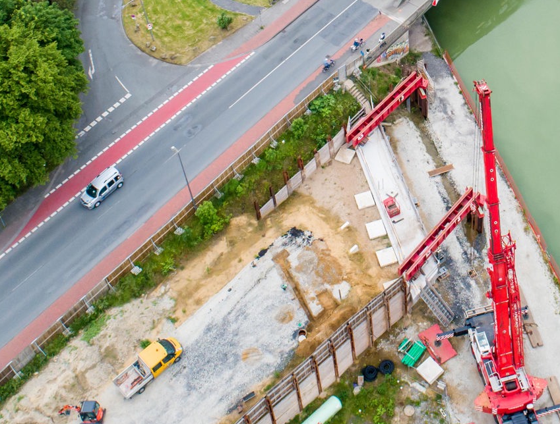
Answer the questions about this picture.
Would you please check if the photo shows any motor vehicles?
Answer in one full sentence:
Yes, the frame does contain a motor vehicle.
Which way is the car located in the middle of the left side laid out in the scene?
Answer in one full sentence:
Seen from above, the car located in the middle of the left side lies diagonally.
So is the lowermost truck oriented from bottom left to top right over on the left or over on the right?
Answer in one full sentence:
The lowermost truck oriented from bottom left to top right sits on the left side.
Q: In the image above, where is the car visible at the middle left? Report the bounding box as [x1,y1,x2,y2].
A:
[75,167,126,213]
